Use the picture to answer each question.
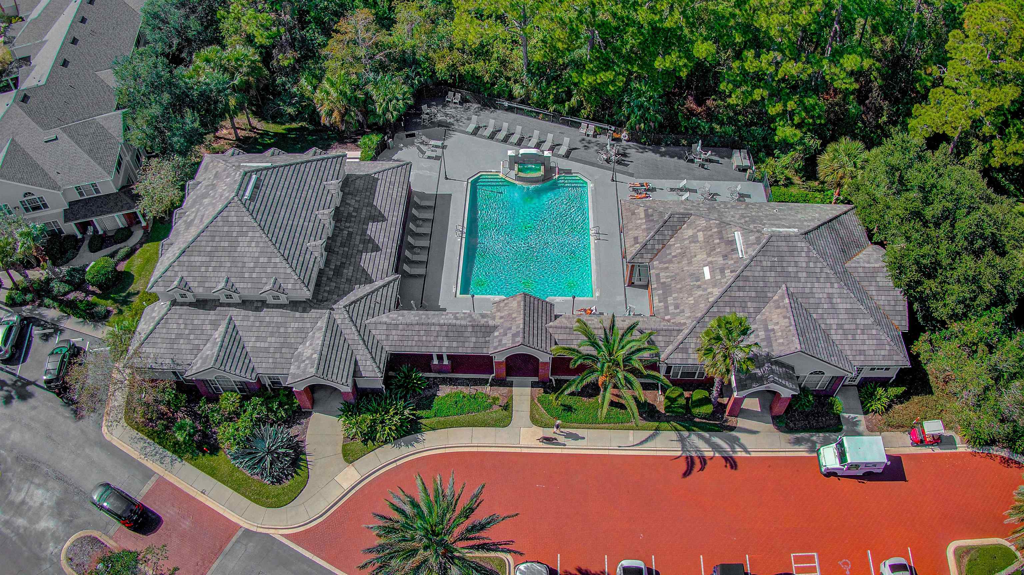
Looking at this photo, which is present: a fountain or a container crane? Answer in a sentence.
Of the two, only a fountain appears.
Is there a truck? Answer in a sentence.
Yes, the photo shows a truck.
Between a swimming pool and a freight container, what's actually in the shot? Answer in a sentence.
It is a swimming pool that can be seen here.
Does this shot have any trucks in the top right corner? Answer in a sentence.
No, I can find no truck in the top right corner.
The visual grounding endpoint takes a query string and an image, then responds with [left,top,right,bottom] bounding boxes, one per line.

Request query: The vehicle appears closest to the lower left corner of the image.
[84,483,158,541]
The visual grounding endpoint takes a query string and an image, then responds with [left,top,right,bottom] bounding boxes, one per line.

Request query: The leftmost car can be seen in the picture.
[0,312,30,368]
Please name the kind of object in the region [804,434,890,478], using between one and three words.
truck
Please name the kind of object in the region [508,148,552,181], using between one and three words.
fountain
